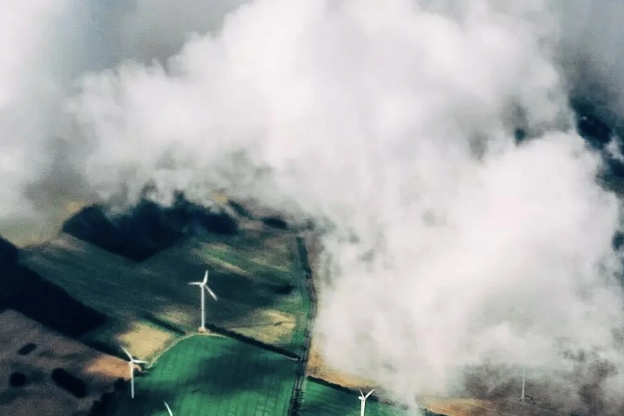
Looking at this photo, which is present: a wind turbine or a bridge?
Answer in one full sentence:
Visible in the photo is a wind turbine.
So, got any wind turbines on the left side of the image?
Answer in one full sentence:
Yes, a wind turbine is visible on the left side of the image.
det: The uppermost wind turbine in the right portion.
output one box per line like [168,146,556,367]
[511,341,540,399]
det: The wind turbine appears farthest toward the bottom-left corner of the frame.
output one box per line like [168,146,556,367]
[122,346,145,398]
